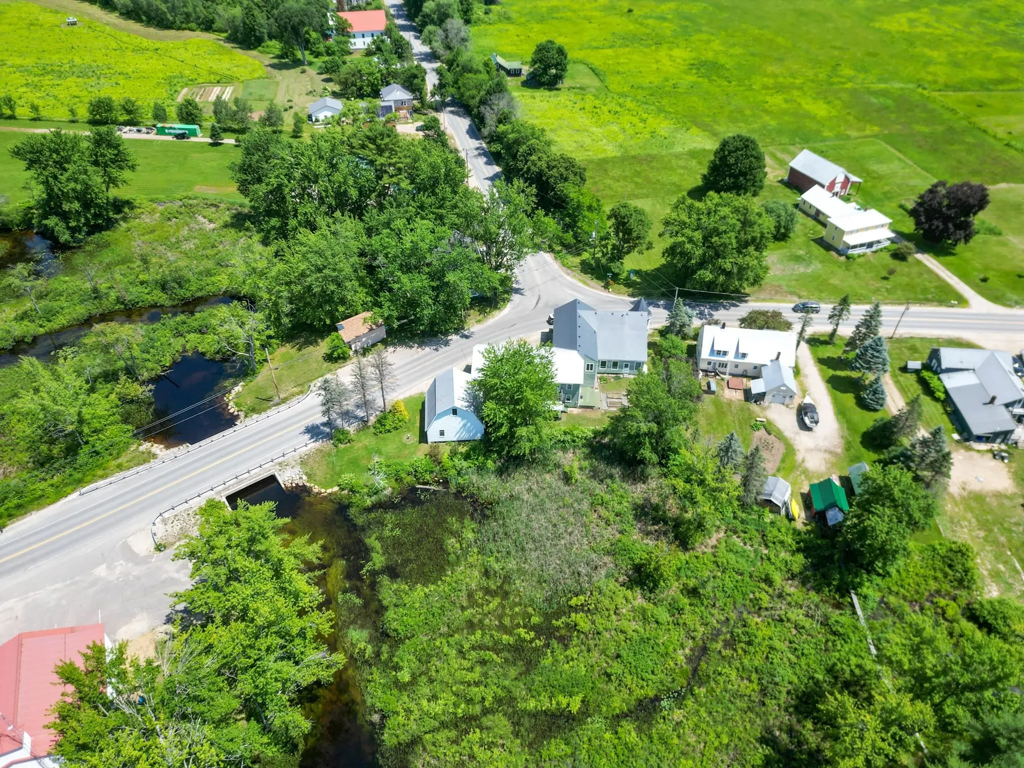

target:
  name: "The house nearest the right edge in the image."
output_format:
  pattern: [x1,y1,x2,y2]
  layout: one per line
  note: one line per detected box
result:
[926,346,1024,441]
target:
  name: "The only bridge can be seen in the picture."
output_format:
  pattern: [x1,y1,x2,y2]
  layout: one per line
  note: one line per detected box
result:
[192,422,289,513]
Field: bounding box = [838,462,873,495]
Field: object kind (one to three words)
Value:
shed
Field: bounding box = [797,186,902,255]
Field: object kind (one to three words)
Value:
house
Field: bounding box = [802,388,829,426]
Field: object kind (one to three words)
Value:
boat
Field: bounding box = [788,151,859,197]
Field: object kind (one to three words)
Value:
barn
